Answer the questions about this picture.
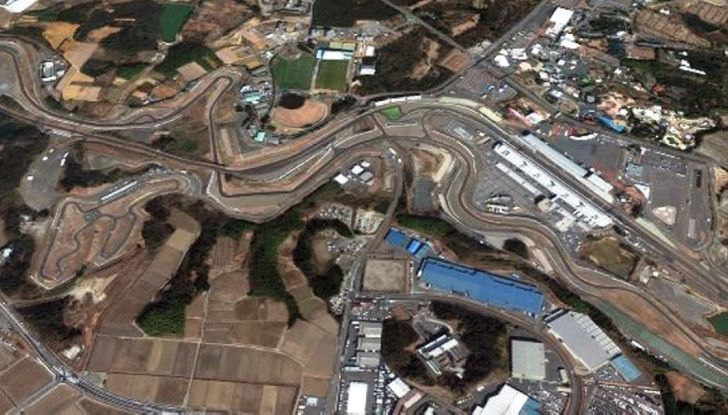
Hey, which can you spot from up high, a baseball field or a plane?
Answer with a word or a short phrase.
baseball field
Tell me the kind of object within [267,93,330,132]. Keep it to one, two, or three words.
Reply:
baseball field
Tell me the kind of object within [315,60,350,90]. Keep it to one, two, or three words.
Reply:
soccer field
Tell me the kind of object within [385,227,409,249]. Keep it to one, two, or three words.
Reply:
building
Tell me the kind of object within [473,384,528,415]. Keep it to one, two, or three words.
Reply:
building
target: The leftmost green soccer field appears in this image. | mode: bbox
[275,55,313,90]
